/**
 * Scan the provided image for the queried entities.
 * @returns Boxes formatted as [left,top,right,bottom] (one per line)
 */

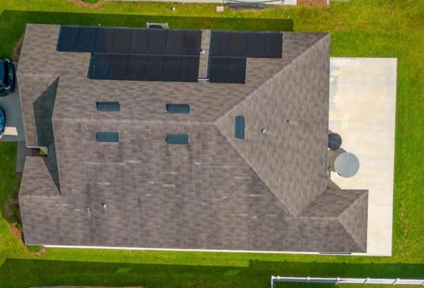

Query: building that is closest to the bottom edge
[16,25,368,258]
